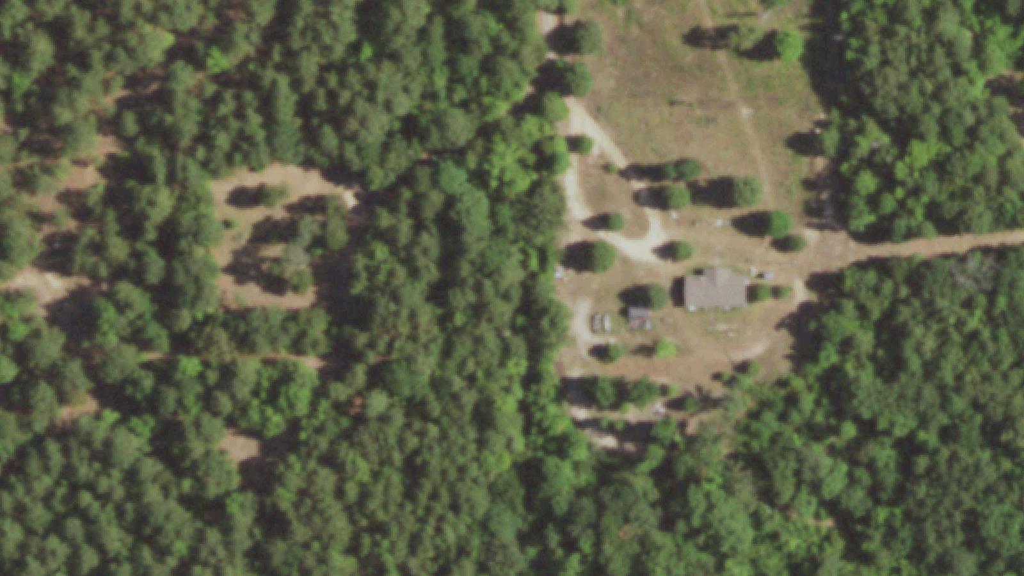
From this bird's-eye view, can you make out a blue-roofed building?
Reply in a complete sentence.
No, no blue-roofed building is visible in the scene.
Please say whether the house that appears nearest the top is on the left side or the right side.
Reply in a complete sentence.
The house that appears nearest the top sits on the right side.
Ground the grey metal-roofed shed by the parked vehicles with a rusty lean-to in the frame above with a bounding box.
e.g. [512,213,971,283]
[629,308,649,328]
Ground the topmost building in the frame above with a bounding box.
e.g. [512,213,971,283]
[685,266,748,309]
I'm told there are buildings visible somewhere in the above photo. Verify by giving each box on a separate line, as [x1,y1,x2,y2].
[685,266,748,309]
[629,308,649,328]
